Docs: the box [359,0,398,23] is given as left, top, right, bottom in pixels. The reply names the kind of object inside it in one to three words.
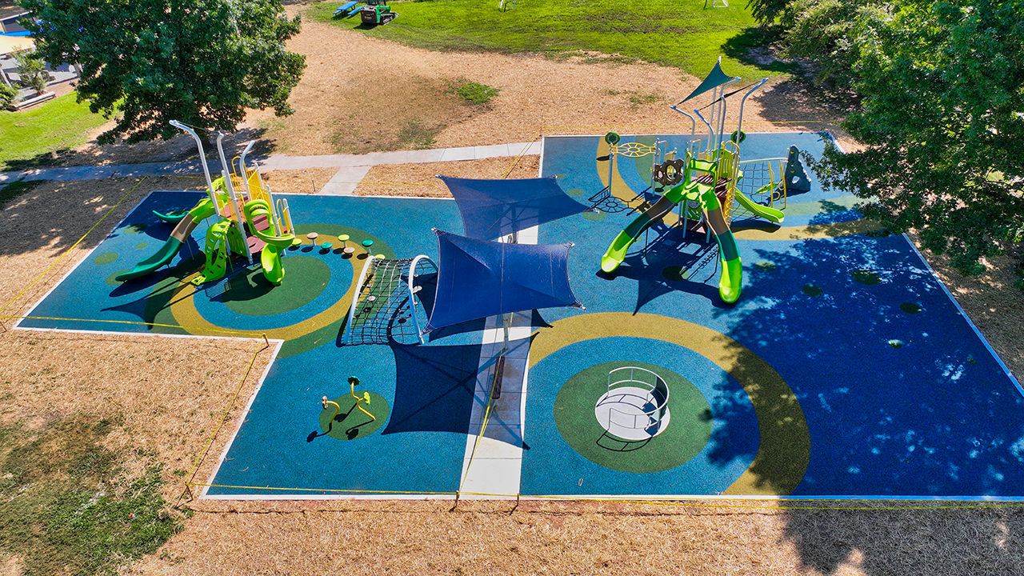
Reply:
work vehicle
